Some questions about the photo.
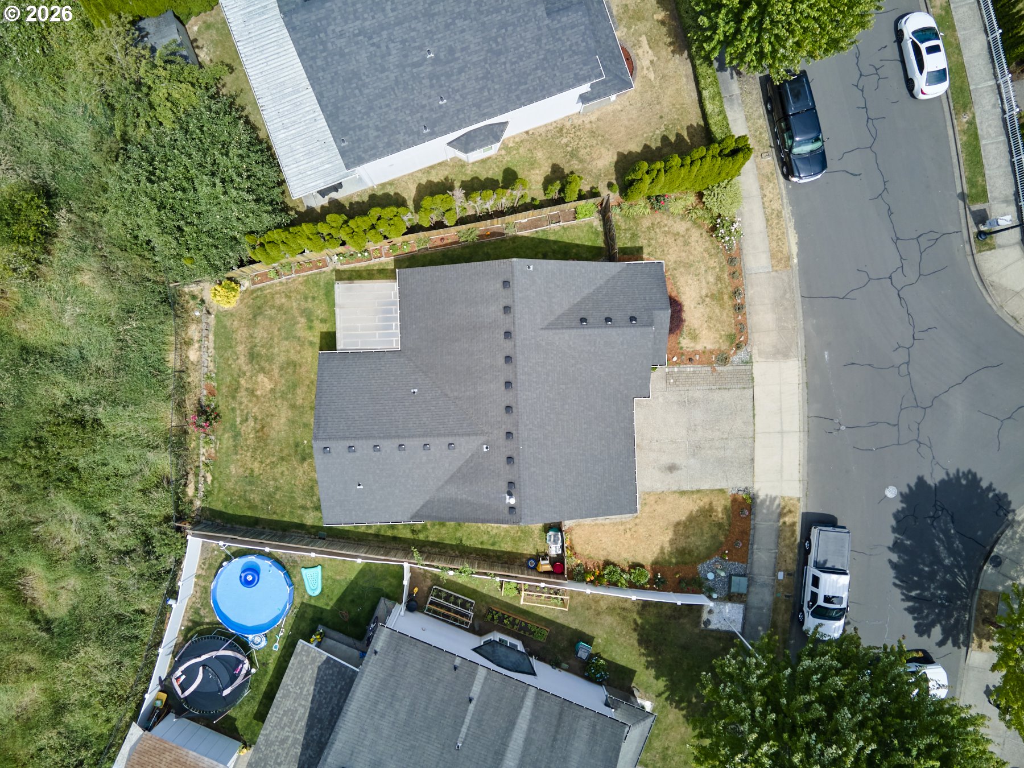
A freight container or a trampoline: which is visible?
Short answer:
trampoline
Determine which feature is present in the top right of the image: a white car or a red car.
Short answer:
white car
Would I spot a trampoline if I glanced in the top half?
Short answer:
No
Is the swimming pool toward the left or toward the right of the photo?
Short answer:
left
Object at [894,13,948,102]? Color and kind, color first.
white car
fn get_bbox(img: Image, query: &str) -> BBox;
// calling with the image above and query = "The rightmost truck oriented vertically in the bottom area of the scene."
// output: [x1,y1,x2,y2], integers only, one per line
[795,516,848,636]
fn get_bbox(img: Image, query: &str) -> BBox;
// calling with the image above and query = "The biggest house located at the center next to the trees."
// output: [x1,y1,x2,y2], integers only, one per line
[313,259,671,526]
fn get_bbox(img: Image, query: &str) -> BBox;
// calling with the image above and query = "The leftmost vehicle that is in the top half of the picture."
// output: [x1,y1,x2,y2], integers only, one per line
[767,72,831,187]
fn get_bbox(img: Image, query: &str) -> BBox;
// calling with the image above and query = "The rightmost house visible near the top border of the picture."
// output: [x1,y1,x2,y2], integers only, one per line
[279,0,635,193]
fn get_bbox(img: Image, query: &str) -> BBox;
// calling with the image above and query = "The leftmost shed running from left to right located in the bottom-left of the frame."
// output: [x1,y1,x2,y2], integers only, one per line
[111,713,241,768]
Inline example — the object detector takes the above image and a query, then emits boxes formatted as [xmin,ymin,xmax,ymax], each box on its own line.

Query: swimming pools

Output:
[204,548,296,638]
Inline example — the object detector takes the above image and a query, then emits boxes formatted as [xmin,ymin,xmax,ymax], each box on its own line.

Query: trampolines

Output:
[160,633,254,724]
